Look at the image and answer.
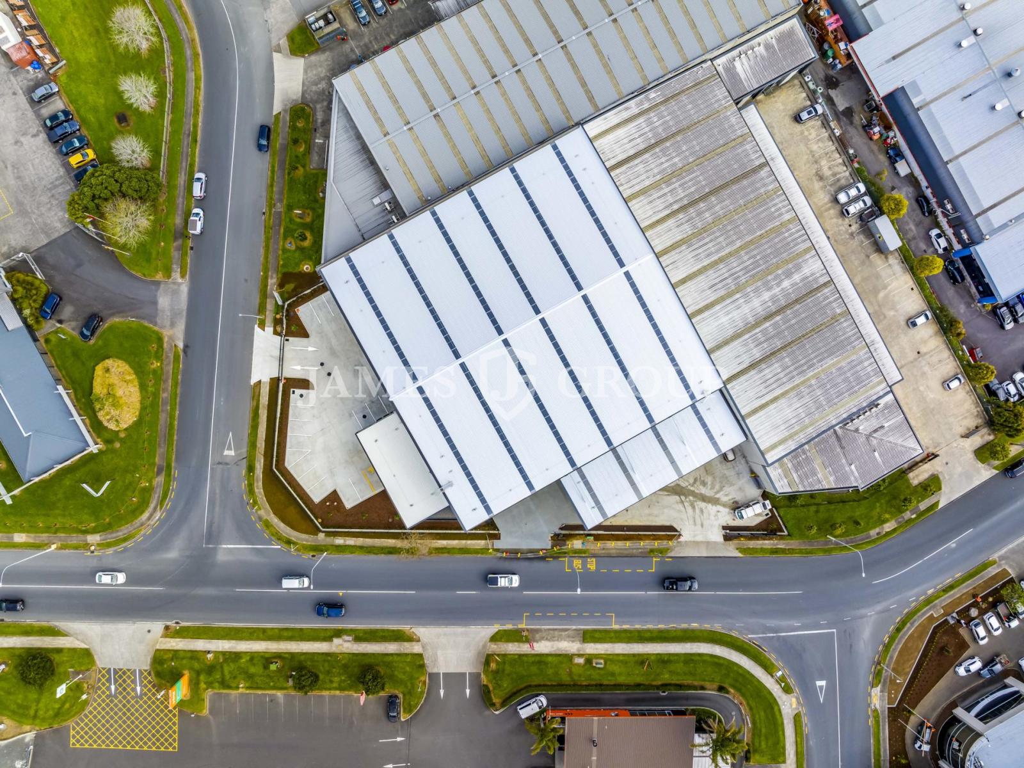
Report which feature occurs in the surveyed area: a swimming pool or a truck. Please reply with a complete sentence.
This aerial view contains a truck.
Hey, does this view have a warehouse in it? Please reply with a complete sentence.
Yes, you can see a warehouse in this photo.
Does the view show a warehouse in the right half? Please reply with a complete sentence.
Yes, a warehouse can be seen in the right half.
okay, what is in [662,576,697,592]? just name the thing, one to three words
vehicle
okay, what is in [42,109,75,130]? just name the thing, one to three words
car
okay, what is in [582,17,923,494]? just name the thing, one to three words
warehouse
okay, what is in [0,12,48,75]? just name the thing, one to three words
building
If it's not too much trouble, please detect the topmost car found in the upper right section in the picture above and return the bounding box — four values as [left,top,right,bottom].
[794,104,824,124]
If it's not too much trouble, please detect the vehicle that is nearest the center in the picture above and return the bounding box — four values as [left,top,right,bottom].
[487,573,519,588]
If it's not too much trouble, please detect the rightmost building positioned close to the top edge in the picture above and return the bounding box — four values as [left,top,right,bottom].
[832,0,1024,249]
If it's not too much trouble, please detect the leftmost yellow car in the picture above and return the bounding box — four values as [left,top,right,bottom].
[68,149,98,168]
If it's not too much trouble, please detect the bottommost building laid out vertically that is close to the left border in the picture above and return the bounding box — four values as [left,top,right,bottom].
[0,268,100,482]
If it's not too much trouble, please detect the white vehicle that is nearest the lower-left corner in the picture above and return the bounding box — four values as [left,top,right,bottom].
[95,571,127,585]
